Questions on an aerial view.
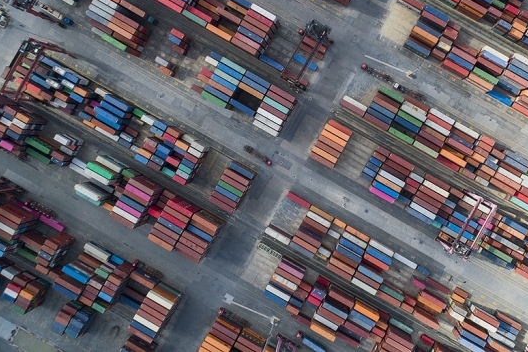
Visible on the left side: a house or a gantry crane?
gantry crane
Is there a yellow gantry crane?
No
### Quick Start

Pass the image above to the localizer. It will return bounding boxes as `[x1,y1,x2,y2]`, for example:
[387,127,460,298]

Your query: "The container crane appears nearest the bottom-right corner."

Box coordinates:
[432,188,496,262]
